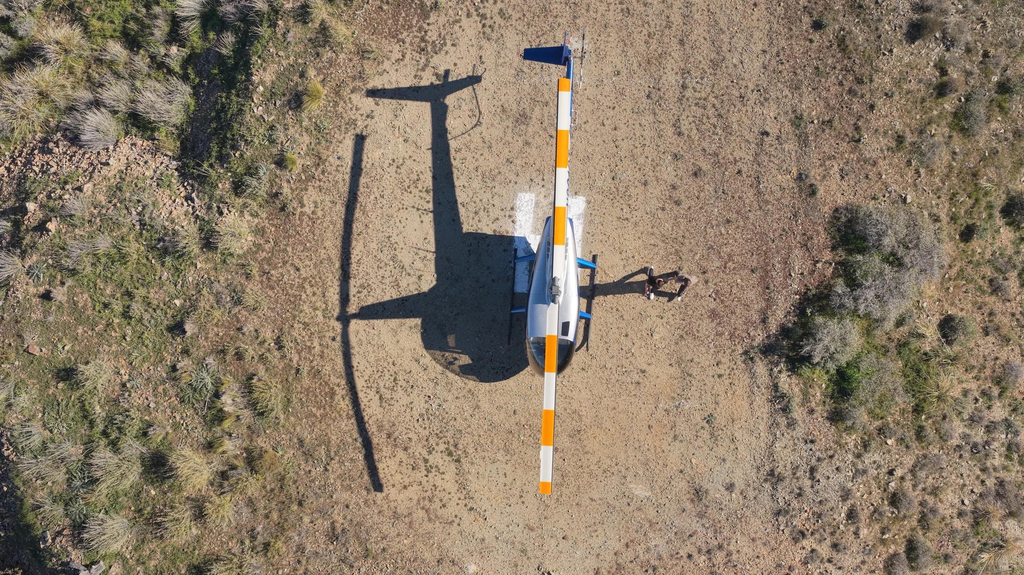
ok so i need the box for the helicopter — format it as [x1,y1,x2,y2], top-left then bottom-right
[507,24,597,495]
